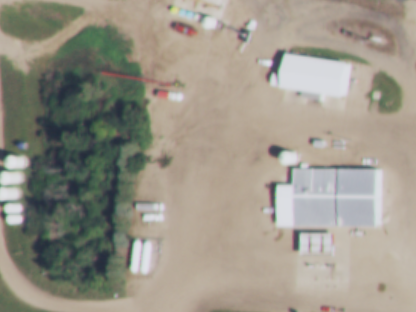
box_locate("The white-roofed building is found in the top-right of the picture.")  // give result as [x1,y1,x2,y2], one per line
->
[279,52,350,97]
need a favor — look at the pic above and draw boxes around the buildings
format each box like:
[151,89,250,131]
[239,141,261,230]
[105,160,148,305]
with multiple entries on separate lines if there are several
[276,168,381,228]
[279,52,350,97]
